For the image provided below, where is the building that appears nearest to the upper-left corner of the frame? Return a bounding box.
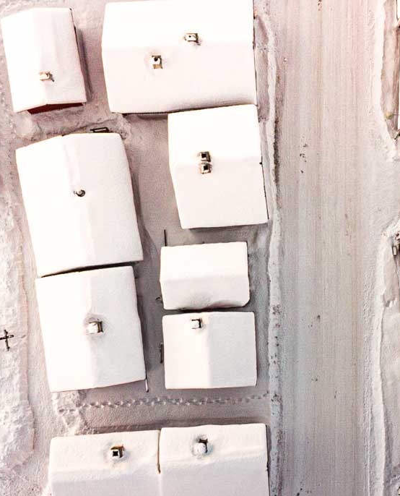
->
[2,9,87,118]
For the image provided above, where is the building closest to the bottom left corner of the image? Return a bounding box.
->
[50,430,166,496]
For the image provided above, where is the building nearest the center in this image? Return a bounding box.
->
[160,243,250,310]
